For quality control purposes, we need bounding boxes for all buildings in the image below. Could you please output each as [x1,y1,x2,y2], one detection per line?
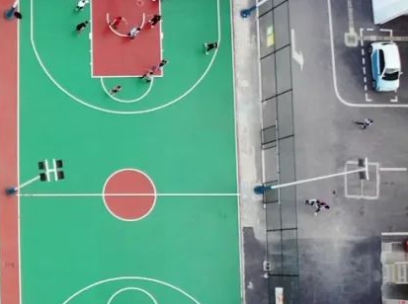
[381,230,408,304]
[374,0,408,24]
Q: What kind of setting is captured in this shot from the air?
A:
sports ground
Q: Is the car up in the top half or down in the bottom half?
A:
top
